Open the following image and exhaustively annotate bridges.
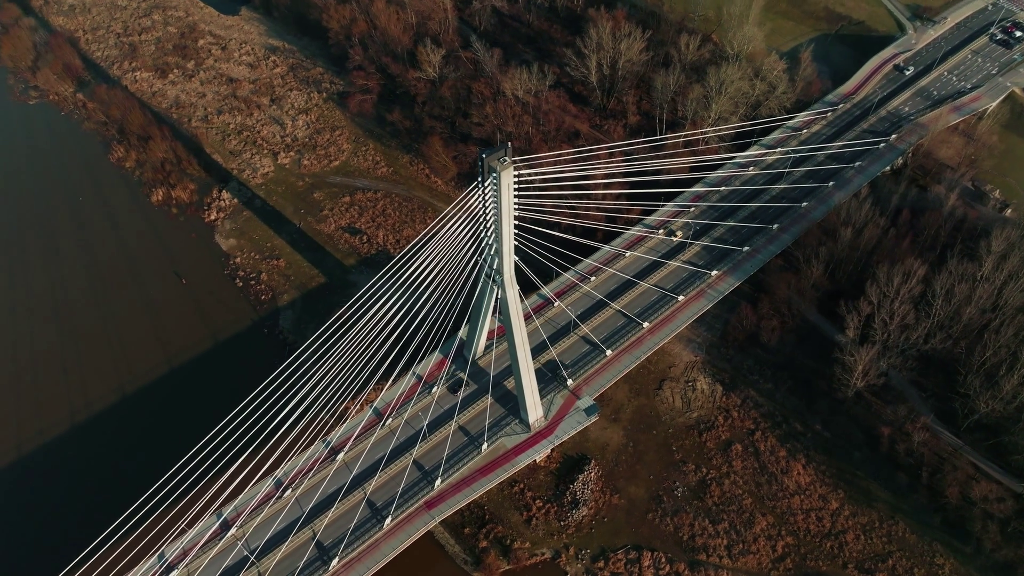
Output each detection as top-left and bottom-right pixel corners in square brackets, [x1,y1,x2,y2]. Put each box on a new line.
[56,91,918,576]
